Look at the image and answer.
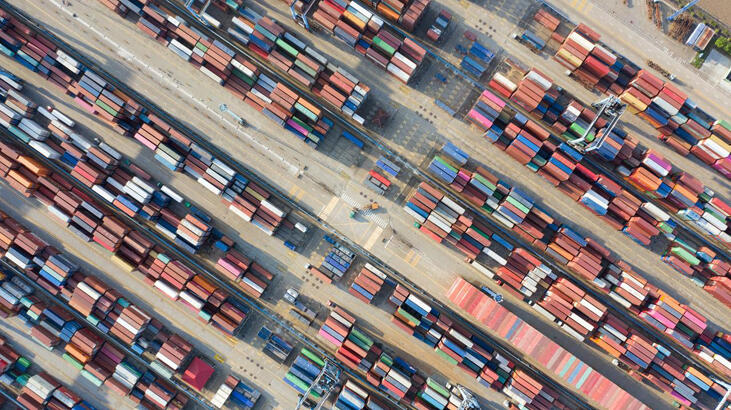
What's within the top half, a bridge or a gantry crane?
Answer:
gantry crane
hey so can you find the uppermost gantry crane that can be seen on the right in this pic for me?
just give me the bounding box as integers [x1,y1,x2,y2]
[561,94,629,156]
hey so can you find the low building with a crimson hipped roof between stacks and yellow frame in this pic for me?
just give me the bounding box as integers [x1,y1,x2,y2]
[181,354,218,391]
